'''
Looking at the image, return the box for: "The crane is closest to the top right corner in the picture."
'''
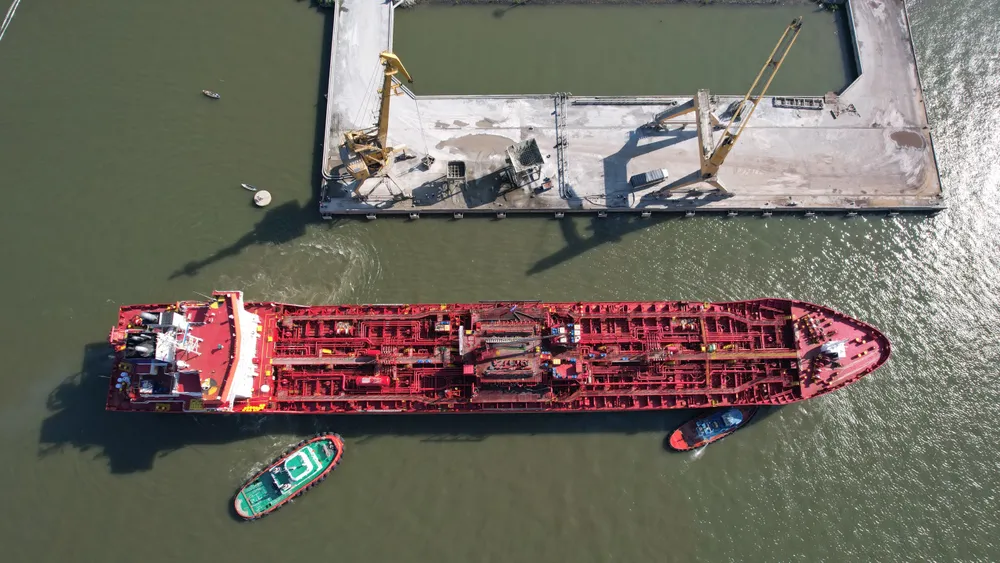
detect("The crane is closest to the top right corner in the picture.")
[646,8,809,192]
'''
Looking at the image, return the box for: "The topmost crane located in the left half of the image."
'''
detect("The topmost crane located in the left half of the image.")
[340,50,428,192]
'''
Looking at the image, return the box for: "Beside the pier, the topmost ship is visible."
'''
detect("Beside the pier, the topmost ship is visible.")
[103,290,892,413]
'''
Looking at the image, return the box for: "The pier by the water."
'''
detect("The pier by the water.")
[319,0,946,222]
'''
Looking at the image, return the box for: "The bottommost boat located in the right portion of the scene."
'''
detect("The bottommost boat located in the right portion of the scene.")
[666,409,759,458]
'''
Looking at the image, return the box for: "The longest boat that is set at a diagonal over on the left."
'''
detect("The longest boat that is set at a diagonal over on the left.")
[235,433,346,522]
